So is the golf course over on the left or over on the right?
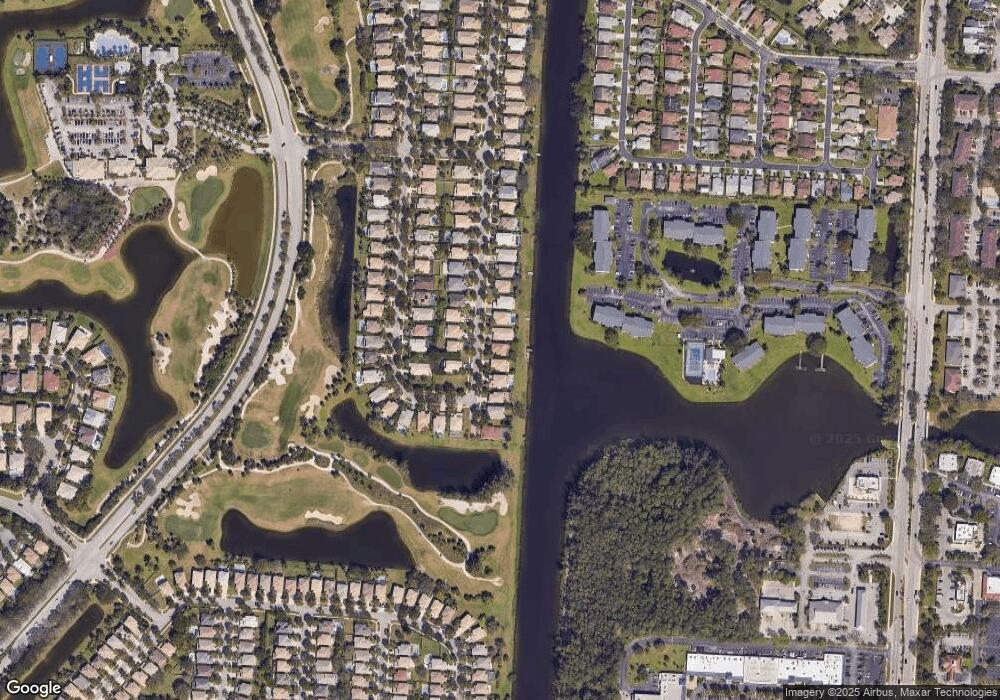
left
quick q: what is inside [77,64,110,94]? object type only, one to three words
sports court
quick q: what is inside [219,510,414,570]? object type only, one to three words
pond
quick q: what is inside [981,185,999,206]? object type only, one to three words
house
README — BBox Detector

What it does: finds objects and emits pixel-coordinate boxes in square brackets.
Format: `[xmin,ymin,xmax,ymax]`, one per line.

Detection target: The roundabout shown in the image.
[144,66,178,153]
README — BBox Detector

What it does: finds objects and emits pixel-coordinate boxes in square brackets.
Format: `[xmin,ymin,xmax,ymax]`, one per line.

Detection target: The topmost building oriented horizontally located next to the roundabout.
[142,46,179,64]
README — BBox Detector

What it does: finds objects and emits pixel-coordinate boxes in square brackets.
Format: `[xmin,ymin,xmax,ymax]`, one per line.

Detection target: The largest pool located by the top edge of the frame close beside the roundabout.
[90,28,139,58]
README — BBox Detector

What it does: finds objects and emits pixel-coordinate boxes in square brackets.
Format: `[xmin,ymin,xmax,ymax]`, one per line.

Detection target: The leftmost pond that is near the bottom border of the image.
[6,604,104,700]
